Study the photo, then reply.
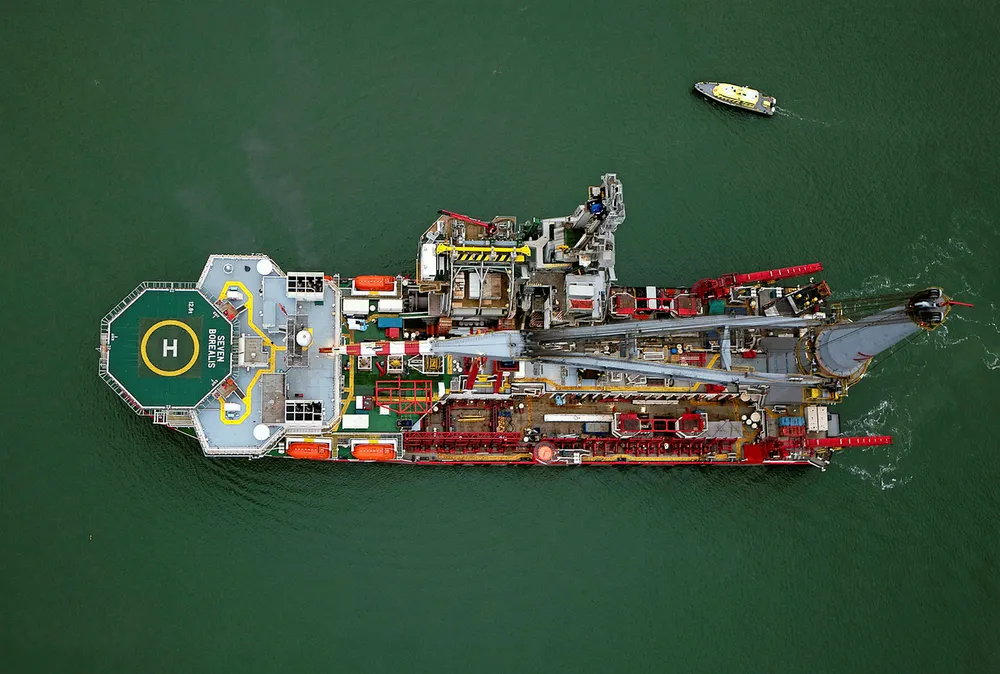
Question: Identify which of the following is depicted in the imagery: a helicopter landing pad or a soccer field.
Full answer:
Visible in the photo is a helicopter landing pad.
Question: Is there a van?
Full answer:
No, there's no van here.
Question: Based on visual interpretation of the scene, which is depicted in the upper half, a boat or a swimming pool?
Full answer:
The feature located in the upper half is a boat.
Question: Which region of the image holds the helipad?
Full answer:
You can find the helipad in the left area of the picture.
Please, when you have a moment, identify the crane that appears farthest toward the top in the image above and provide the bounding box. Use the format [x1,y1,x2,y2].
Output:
[438,209,500,236]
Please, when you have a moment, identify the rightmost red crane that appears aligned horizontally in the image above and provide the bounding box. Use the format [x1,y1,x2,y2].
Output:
[759,432,892,462]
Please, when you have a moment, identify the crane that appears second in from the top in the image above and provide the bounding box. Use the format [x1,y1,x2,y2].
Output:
[690,263,823,306]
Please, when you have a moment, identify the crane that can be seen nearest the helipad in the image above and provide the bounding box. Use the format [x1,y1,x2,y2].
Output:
[341,285,974,392]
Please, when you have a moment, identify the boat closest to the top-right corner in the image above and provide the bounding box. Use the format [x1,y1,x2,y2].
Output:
[695,79,781,119]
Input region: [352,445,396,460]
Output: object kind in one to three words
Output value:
boat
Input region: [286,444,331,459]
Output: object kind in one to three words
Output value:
boat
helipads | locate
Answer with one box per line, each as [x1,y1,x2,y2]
[96,282,249,427]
